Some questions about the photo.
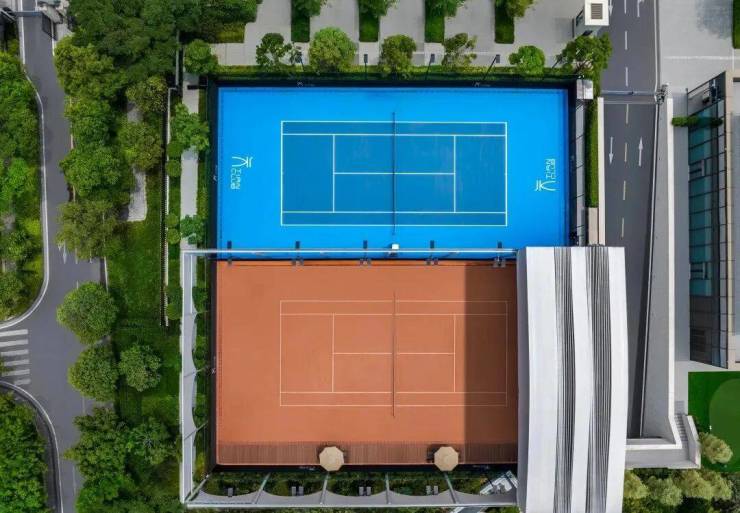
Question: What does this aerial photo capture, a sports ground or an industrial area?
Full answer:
This looks like a sports ground.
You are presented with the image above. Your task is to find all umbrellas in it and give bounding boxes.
[433,444,459,470]
[318,444,345,471]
